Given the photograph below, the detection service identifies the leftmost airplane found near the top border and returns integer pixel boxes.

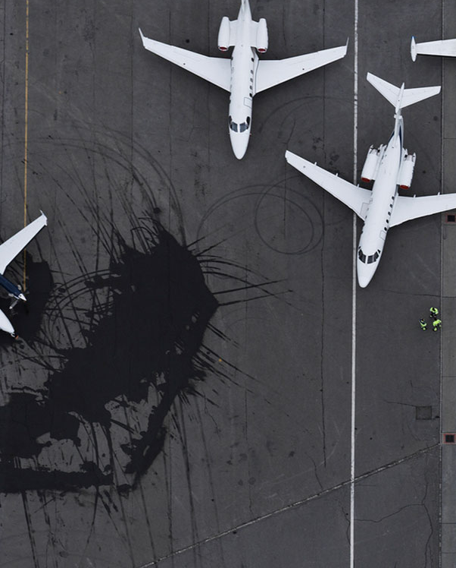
[139,0,348,161]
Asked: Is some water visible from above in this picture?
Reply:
No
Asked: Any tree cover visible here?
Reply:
No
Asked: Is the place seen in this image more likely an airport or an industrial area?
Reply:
airport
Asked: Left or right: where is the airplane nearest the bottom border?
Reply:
left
